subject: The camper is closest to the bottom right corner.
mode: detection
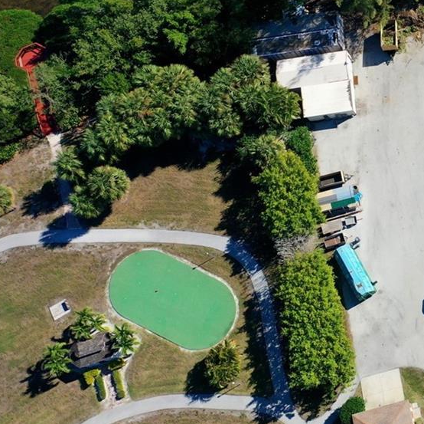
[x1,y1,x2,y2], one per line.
[332,243,375,302]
